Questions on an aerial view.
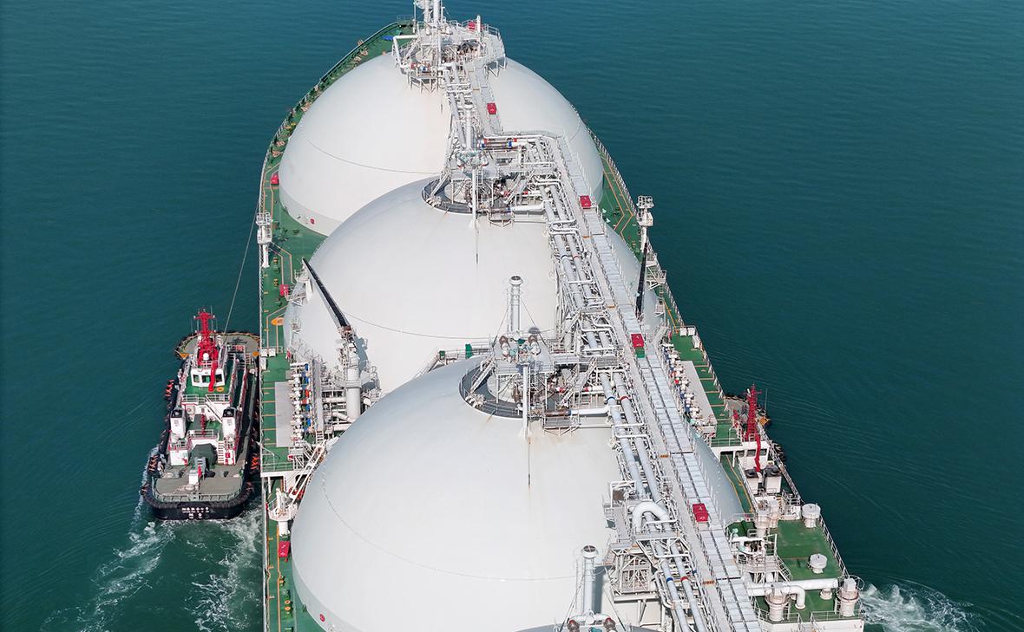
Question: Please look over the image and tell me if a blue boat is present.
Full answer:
No, no blue boat is visible in the scene.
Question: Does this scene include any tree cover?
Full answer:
No, there's no tree cover in this view.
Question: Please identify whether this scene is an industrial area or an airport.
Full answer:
The area seen from above is an industrial area.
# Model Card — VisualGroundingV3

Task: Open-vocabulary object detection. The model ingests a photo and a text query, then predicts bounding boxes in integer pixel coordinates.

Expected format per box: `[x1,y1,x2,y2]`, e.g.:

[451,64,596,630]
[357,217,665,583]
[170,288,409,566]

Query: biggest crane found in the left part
[288,254,388,407]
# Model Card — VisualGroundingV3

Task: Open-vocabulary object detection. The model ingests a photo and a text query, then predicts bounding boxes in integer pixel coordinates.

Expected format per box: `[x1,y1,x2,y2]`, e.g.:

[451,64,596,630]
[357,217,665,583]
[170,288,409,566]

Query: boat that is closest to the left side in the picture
[139,309,261,520]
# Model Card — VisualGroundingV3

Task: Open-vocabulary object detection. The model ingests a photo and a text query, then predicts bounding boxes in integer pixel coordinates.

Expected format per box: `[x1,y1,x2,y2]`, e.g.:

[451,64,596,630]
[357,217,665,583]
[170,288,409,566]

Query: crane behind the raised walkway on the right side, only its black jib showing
[634,245,657,346]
